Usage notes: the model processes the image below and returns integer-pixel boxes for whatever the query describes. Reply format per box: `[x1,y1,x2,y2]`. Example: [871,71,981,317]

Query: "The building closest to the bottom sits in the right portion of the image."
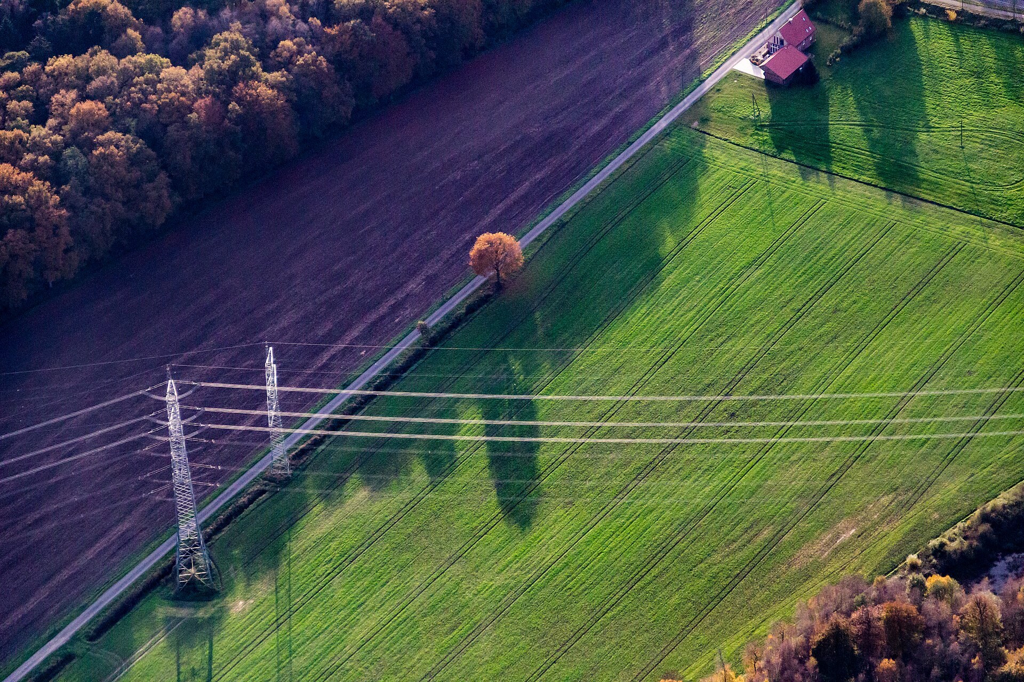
[759,43,808,83]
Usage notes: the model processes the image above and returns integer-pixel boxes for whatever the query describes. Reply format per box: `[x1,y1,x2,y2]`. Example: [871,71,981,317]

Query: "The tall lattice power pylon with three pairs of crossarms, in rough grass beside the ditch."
[146,366,216,590]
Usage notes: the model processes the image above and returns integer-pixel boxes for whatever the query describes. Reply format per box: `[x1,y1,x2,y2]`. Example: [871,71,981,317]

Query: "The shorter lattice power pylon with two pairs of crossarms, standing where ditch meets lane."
[263,340,290,477]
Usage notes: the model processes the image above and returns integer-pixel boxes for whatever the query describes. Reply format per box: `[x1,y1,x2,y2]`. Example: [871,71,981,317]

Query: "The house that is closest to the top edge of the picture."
[766,9,817,53]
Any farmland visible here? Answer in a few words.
Yes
